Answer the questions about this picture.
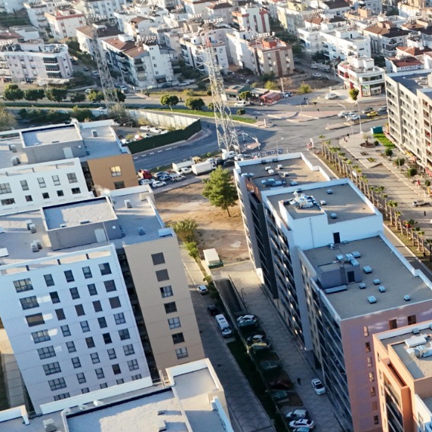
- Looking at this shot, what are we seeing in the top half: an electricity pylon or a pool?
electricity pylon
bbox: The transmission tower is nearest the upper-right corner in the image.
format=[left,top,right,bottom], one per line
[208,30,251,156]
